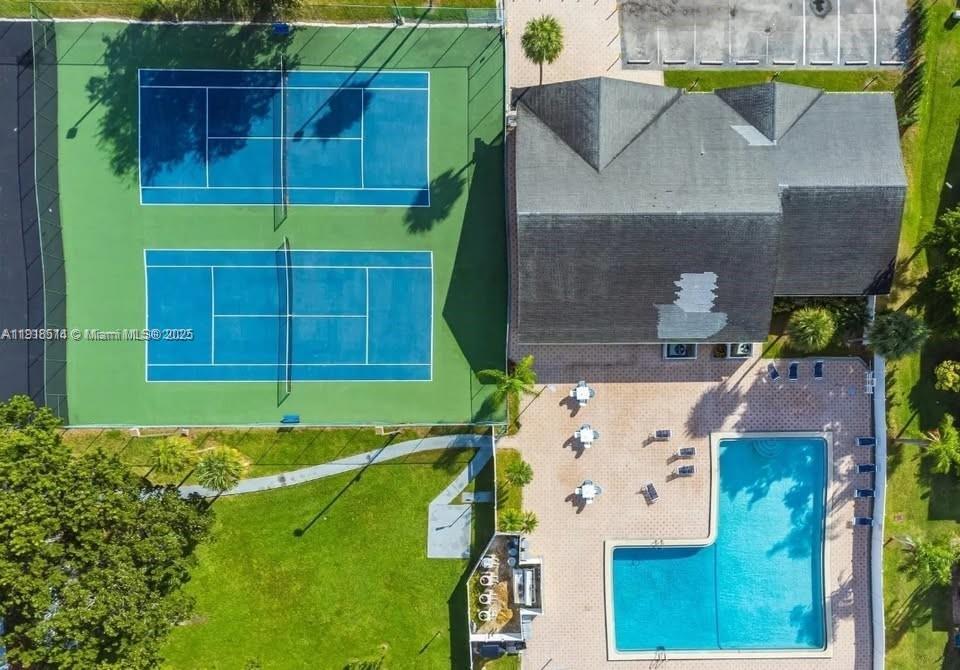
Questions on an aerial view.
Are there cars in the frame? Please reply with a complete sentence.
No, no car can be seen from above.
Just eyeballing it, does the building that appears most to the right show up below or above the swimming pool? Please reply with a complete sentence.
In the image, the building that appears most to the right sits above the swimming pool.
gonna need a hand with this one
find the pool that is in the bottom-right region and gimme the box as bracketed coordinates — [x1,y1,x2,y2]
[604,433,832,660]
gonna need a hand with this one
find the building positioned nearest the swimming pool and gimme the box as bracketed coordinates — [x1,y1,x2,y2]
[511,78,908,345]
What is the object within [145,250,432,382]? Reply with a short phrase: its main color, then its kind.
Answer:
blue tennis court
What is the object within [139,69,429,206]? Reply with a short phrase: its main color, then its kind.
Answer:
blue tennis court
